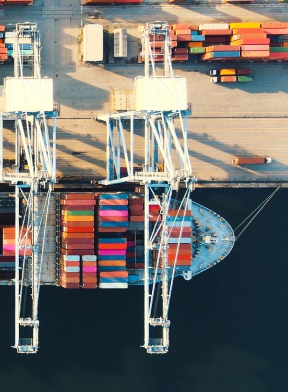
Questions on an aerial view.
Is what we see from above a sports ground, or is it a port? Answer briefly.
port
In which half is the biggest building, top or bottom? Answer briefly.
top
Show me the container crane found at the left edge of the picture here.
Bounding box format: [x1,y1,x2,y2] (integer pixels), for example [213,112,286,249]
[0,21,59,356]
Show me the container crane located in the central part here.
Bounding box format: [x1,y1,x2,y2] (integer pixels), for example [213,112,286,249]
[90,21,200,356]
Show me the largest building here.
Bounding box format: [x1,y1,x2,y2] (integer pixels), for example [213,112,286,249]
[81,25,103,63]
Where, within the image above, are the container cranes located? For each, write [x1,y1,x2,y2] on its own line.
[90,21,200,356]
[0,21,59,356]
